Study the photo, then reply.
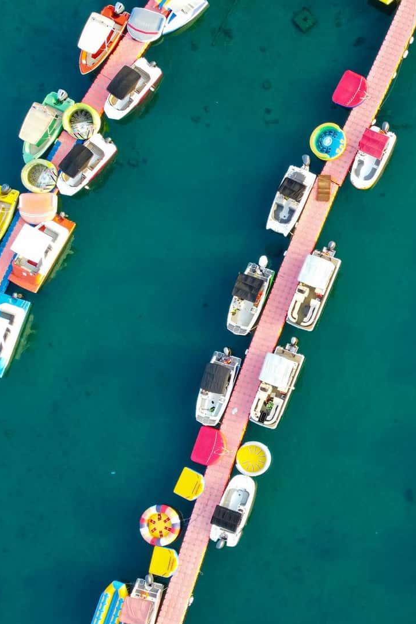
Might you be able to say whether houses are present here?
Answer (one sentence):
No, I can't see a single house in this photo.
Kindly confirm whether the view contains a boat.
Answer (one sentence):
Yes, there's a boat here.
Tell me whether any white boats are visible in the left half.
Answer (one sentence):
Yes, in the left half there is a white boat.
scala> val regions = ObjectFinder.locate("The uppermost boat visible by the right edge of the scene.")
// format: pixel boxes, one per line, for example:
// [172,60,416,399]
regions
[354,124,395,191]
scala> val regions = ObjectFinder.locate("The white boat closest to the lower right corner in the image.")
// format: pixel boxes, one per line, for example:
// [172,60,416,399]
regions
[212,473,255,547]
